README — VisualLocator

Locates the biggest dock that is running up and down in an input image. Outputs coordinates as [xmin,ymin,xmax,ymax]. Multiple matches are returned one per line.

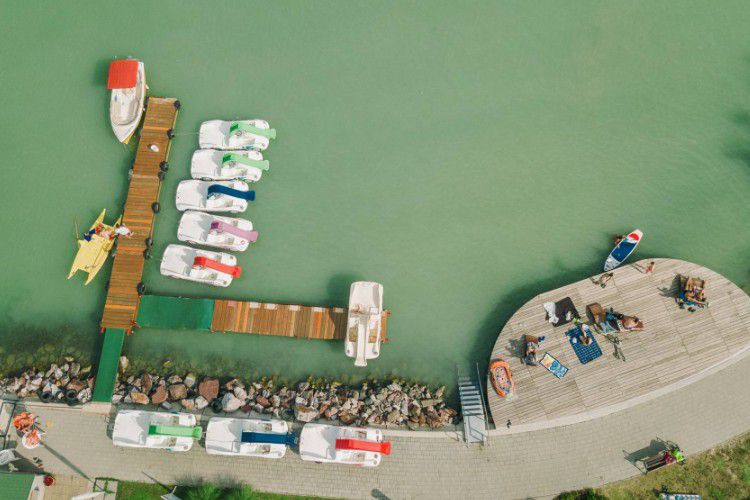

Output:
[100,96,180,332]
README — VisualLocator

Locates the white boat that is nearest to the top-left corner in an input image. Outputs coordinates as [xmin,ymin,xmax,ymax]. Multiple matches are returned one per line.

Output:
[104,53,145,142]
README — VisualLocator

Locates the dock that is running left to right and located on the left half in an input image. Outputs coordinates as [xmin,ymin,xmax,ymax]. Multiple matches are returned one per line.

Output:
[136,295,390,343]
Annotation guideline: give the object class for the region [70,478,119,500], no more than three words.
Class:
umbrella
